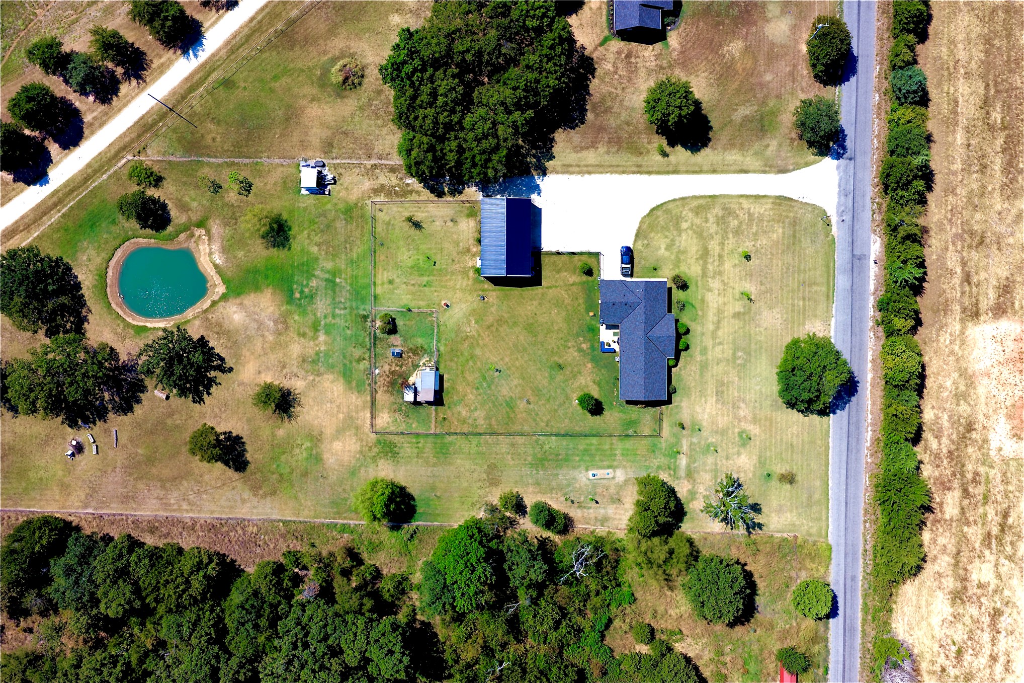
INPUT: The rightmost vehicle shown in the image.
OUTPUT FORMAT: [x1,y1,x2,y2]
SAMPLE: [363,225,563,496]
[620,246,633,277]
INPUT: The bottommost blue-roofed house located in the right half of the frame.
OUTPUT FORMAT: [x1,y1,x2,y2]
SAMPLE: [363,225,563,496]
[600,279,676,401]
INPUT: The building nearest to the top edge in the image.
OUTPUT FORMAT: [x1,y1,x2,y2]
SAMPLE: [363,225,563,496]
[610,0,674,42]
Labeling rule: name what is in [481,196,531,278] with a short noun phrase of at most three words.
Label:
barn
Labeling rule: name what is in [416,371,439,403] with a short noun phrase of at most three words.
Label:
house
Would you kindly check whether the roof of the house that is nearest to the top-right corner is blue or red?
blue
